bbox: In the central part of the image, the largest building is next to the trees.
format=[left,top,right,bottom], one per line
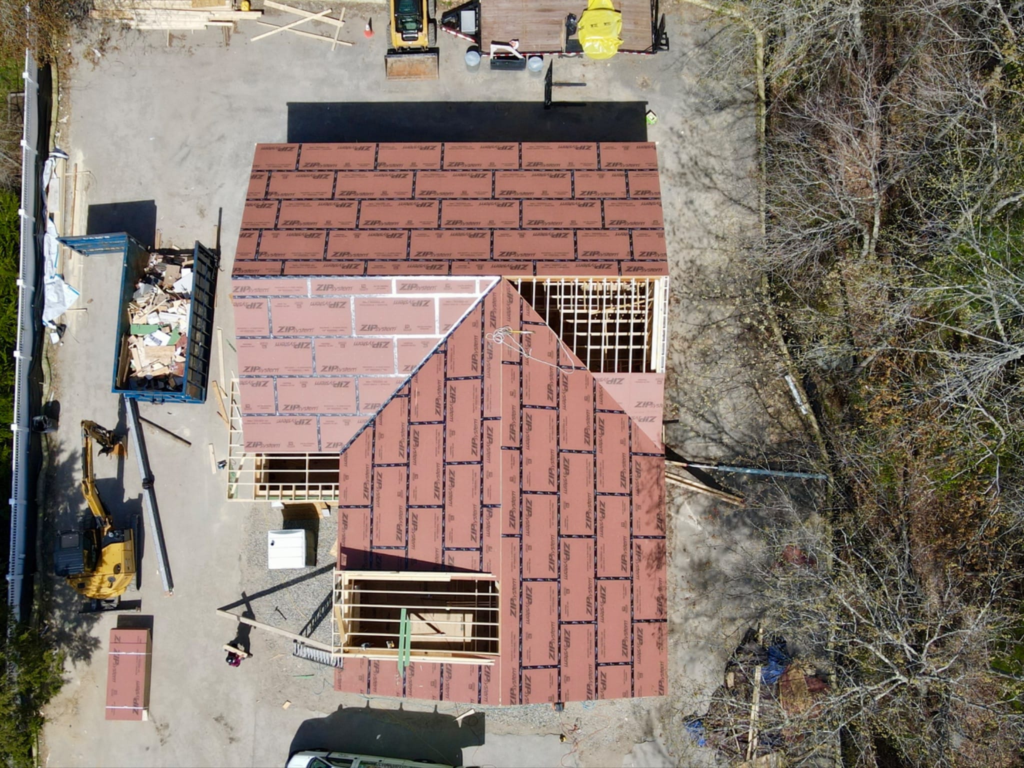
[227,142,669,705]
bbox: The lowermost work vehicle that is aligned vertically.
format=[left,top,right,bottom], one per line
[53,420,144,612]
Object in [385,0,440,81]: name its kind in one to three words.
work vehicle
